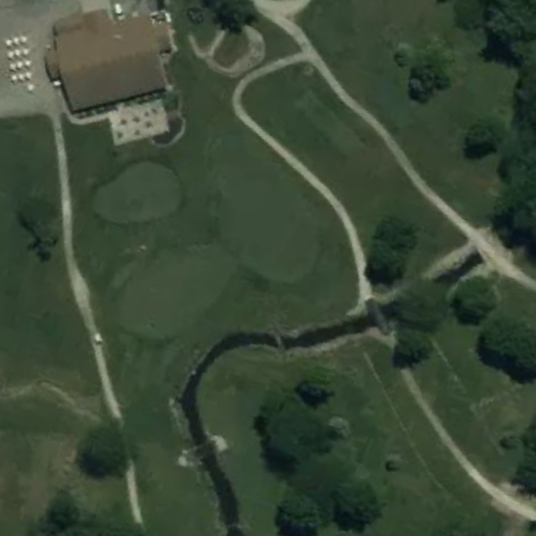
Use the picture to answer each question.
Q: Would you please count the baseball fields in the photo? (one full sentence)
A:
There are no baseball fields in this view.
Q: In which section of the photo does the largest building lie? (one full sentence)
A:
The largest building is in the top left part of the image.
